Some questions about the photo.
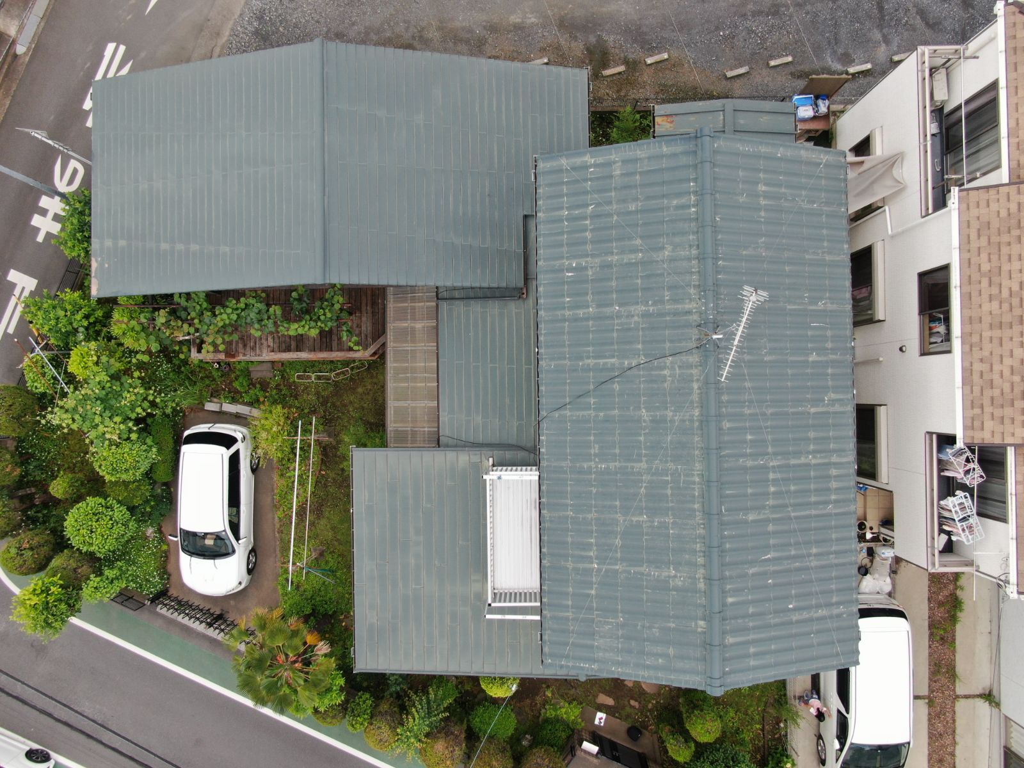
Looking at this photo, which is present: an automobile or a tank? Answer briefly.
automobile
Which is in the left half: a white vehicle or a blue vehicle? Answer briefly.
white vehicle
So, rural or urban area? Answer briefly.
urban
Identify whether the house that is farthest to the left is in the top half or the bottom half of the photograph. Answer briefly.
top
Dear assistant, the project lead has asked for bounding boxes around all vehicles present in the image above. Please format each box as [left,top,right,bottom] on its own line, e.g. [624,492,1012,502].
[164,422,262,596]
[0,733,57,768]
[813,591,916,768]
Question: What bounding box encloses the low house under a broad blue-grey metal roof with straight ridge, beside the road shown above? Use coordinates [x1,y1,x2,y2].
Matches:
[89,33,593,299]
